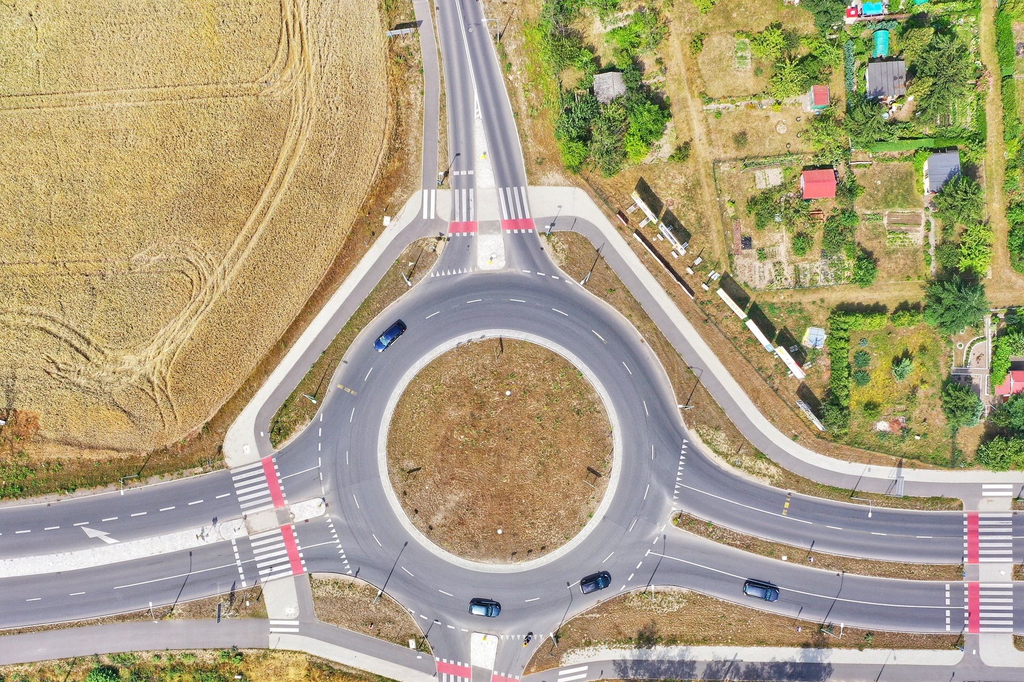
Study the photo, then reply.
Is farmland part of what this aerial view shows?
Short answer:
Yes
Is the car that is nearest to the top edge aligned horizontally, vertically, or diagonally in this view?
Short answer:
diagonally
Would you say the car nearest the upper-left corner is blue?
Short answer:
Yes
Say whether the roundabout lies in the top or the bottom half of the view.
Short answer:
bottom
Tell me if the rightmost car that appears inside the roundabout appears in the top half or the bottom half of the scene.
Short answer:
bottom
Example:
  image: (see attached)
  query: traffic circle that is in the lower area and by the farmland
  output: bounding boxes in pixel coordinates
[319,265,715,640]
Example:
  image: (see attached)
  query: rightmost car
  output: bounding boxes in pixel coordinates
[743,584,778,602]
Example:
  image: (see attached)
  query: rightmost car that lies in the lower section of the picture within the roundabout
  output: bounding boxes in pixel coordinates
[579,574,611,595]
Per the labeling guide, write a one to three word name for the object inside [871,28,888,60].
greenhouse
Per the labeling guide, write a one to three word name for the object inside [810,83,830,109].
shed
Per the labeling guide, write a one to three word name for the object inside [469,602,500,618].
car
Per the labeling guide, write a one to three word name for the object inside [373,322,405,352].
car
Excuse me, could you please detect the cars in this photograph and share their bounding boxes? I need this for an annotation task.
[579,574,611,595]
[373,322,405,352]
[743,584,778,602]
[469,602,500,618]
